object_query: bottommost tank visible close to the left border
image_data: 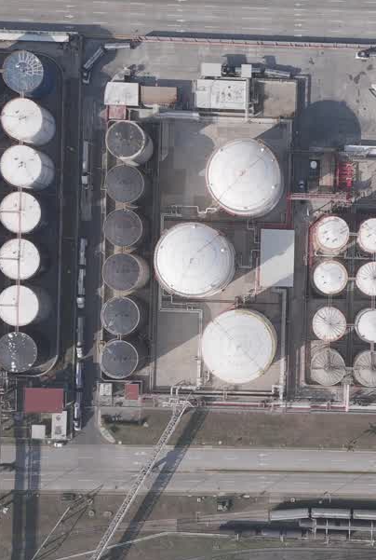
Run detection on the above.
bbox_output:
[0,327,50,371]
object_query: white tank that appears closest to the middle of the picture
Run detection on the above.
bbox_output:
[155,220,237,300]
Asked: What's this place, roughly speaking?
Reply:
industrial area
